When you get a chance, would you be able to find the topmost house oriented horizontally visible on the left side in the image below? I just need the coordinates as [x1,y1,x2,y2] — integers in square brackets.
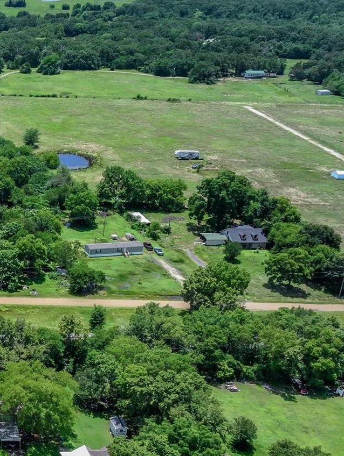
[84,241,143,260]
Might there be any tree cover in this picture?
Yes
